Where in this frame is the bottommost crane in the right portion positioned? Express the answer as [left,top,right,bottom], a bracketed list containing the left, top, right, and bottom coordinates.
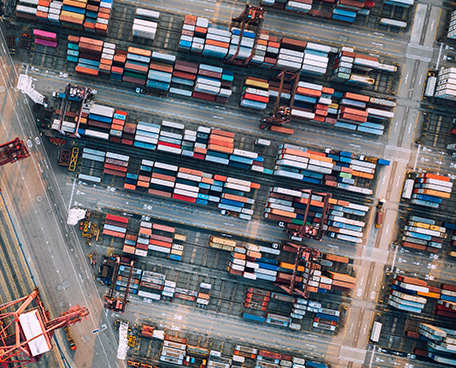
[273,240,317,295]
